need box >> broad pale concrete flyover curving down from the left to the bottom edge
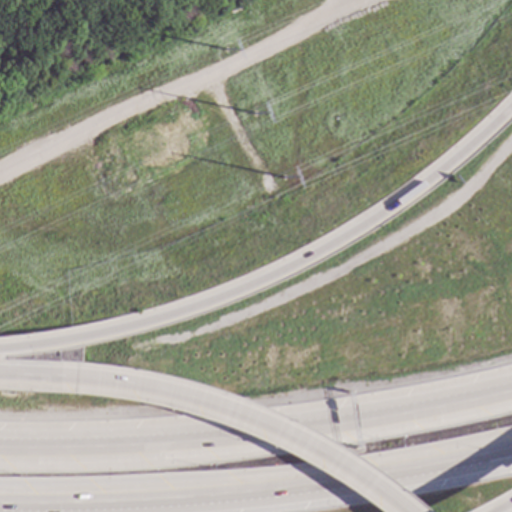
[0,358,432,512]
